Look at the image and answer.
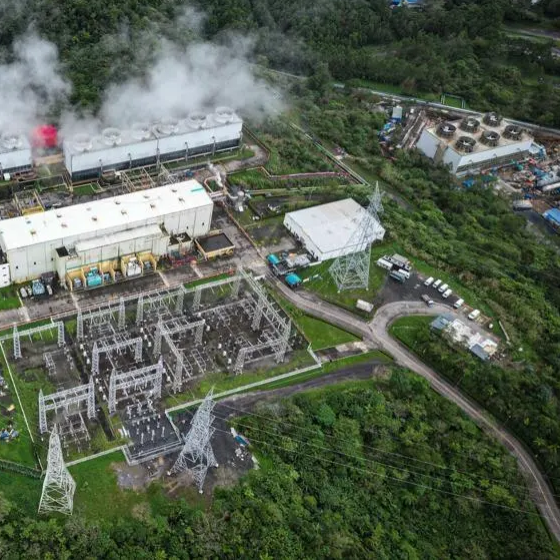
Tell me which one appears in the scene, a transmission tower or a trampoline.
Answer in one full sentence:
It is a transmission tower that can be seen here.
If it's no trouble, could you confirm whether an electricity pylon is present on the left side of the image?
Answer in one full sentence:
Yes, an electricity pylon is visible on the left side of the image.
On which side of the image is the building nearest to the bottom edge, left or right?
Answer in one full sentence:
You can find the building nearest to the bottom edge on the right side of the picture.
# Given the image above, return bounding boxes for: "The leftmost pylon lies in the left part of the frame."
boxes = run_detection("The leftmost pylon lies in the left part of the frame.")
[38,424,76,518]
